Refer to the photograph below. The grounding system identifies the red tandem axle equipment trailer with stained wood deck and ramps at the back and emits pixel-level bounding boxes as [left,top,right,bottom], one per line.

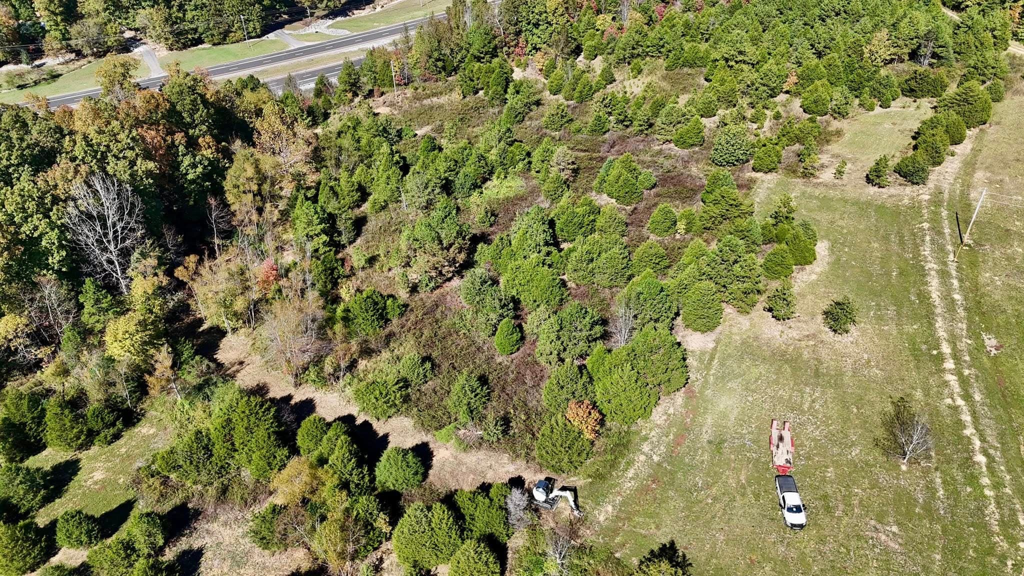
[767,418,800,476]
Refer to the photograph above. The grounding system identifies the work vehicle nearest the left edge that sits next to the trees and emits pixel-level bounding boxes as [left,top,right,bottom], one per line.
[528,476,581,518]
